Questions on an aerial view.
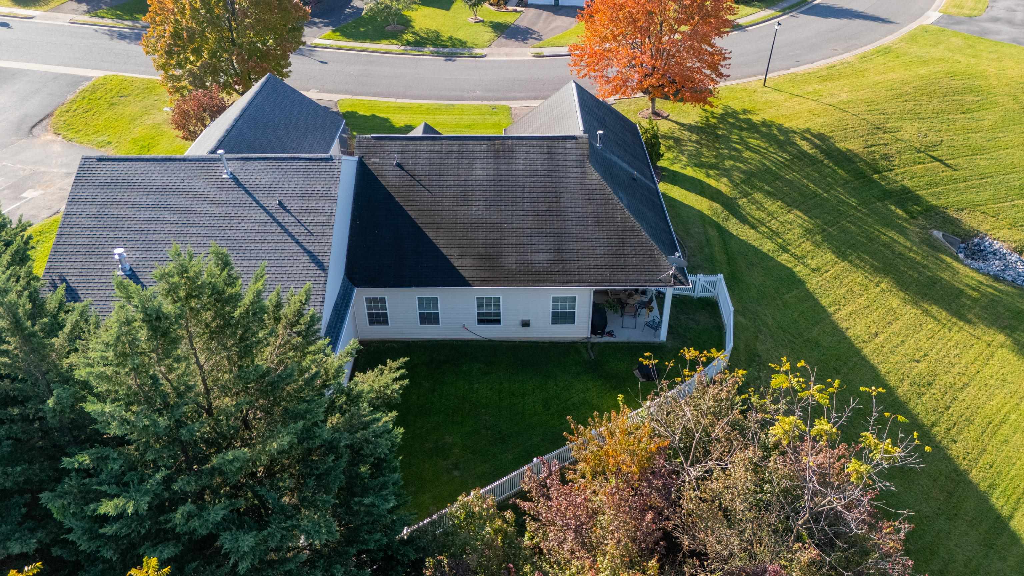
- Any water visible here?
No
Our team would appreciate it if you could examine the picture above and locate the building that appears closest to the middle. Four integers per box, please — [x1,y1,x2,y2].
[345,74,695,341]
